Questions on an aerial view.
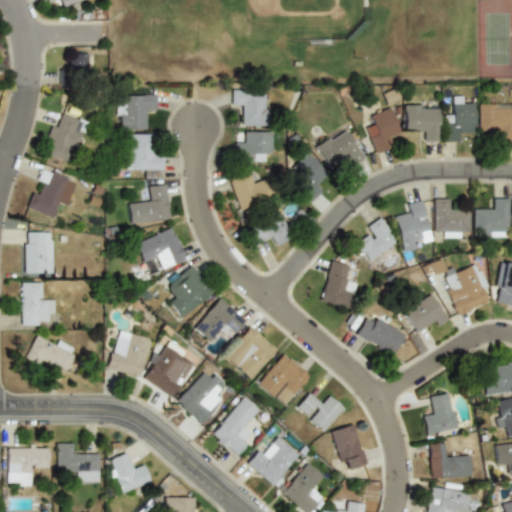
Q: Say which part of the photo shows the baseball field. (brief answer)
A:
top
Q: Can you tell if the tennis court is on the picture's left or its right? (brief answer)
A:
right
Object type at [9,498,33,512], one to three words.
swimming pool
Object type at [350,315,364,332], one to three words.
camper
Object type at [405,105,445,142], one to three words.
house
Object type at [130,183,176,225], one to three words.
house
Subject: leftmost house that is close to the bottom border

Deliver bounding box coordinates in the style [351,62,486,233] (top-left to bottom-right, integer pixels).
[7,448,52,488]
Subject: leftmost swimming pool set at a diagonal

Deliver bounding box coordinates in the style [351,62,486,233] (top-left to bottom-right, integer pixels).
[112,310,130,332]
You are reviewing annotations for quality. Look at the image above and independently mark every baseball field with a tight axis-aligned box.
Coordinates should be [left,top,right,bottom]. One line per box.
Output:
[250,0,346,20]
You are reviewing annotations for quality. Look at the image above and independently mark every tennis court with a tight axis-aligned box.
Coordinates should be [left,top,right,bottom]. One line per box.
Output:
[478,0,512,78]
